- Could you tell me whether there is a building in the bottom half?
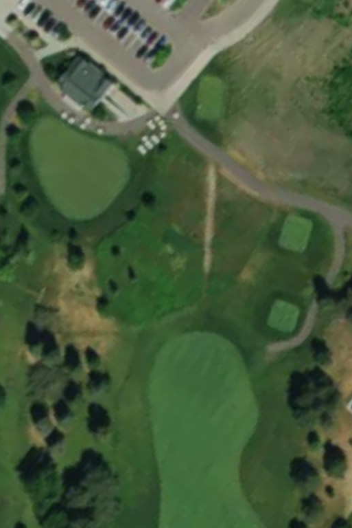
No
